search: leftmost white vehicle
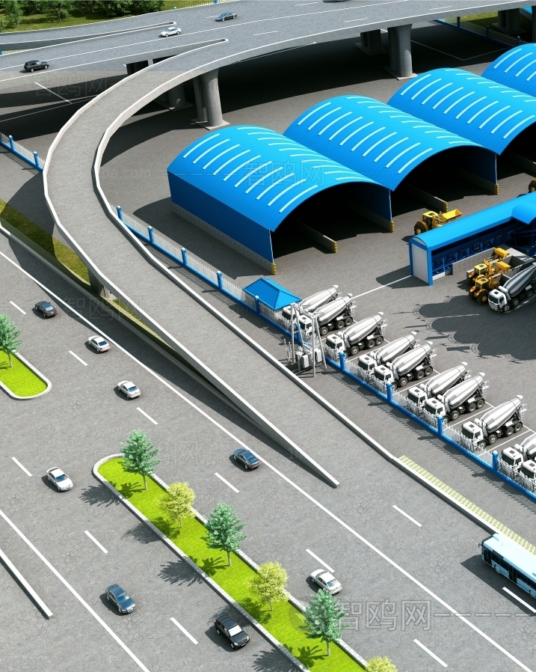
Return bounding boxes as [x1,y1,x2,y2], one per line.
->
[47,466,74,491]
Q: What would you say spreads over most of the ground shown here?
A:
paved ground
